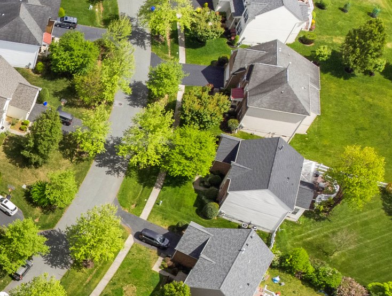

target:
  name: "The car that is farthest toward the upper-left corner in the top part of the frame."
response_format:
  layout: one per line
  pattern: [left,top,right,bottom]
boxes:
[57,15,80,30]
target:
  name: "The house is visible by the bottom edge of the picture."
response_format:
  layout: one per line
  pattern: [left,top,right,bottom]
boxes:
[172,217,275,296]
